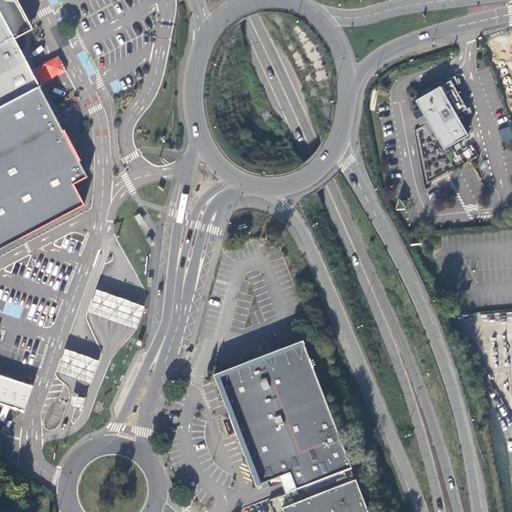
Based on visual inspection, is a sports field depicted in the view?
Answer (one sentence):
No, the picture doesn't show any sports field.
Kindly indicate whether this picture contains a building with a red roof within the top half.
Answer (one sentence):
Yes, looking within the top half, one can make out a building with a red roof.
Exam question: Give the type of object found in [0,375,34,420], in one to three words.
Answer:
building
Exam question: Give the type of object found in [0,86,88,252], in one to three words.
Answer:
building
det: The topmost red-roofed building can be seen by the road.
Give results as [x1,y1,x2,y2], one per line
[34,56,66,85]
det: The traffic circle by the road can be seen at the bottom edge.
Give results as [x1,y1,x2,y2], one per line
[52,432,176,512]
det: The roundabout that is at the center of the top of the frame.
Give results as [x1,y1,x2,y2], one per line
[182,0,356,198]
